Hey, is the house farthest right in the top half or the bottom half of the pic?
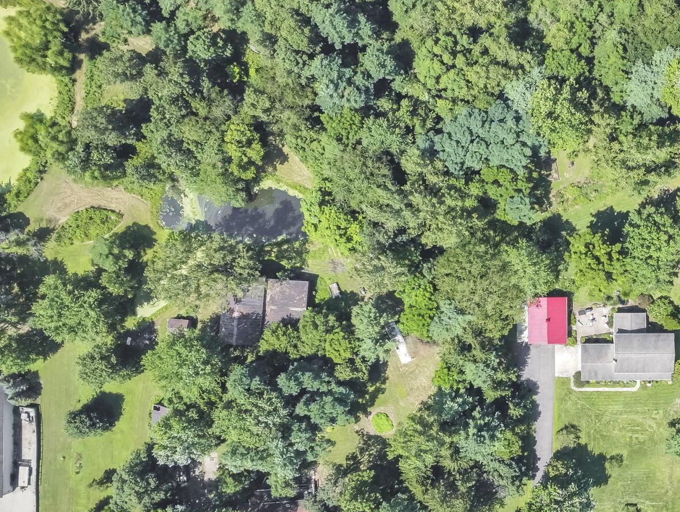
bottom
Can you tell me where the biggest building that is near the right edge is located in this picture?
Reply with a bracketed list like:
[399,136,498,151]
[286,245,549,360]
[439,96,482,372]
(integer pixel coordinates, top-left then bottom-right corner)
[581,313,675,387]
